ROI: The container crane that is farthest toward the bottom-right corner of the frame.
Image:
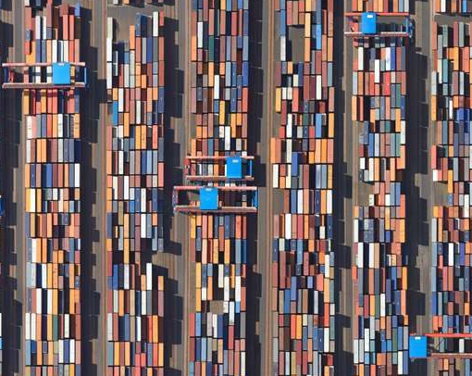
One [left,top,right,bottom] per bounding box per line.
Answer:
[407,328,472,361]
